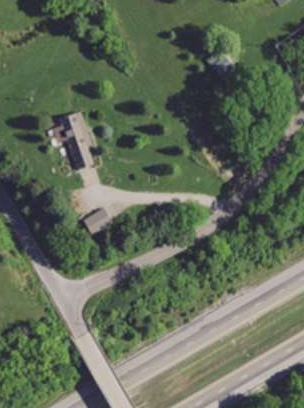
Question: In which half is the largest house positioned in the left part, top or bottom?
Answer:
top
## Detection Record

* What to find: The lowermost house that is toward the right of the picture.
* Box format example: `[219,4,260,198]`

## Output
[204,54,236,83]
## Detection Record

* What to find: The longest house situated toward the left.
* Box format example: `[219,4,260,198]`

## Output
[56,113,94,170]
